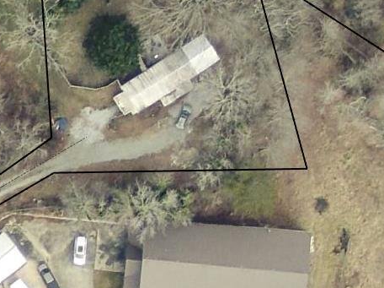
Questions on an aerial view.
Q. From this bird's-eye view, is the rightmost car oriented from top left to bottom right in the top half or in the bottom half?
bottom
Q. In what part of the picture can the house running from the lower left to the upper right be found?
top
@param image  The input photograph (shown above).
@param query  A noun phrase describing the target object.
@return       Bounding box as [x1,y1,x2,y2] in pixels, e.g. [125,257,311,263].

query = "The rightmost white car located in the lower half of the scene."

[73,236,86,266]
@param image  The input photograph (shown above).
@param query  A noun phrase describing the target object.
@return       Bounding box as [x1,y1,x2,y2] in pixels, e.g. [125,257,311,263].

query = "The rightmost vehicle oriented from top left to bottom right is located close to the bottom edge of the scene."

[37,262,60,288]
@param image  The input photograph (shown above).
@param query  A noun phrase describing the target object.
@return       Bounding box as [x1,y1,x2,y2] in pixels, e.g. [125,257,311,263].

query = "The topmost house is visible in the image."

[115,34,220,118]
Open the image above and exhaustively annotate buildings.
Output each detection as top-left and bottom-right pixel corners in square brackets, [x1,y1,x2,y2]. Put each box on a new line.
[124,223,312,288]
[0,233,26,282]
[115,34,220,118]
